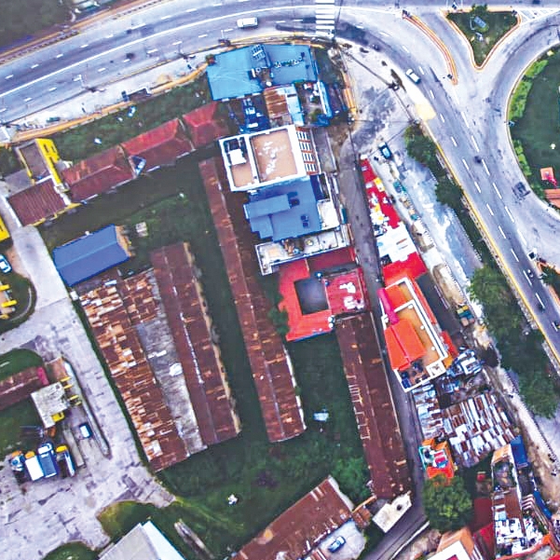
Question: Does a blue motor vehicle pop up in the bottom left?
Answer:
Yes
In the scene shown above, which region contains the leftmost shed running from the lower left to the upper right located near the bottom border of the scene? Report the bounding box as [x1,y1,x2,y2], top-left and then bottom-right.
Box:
[231,475,355,560]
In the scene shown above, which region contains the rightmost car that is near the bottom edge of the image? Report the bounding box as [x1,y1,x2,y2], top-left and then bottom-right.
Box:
[327,534,345,552]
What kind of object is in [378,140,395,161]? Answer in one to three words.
vehicle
